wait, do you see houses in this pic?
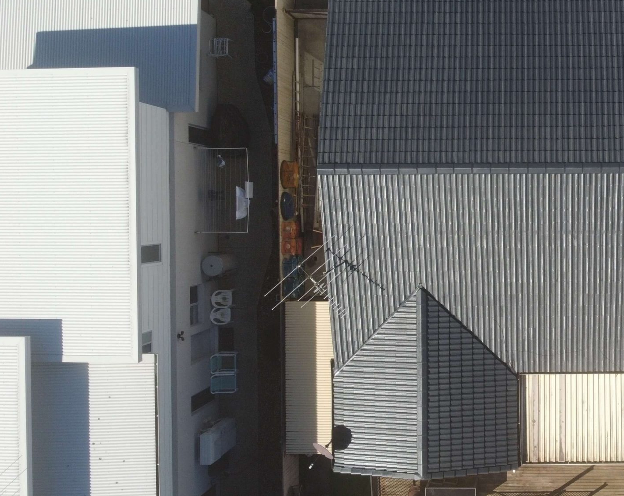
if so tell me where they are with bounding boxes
[314,0,624,480]
[0,0,217,496]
